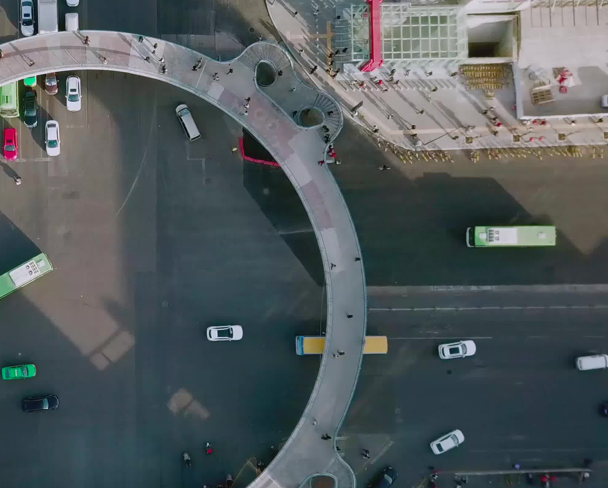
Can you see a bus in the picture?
Yes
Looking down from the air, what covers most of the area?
paved ground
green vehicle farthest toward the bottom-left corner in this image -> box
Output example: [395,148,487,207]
[1,363,37,380]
